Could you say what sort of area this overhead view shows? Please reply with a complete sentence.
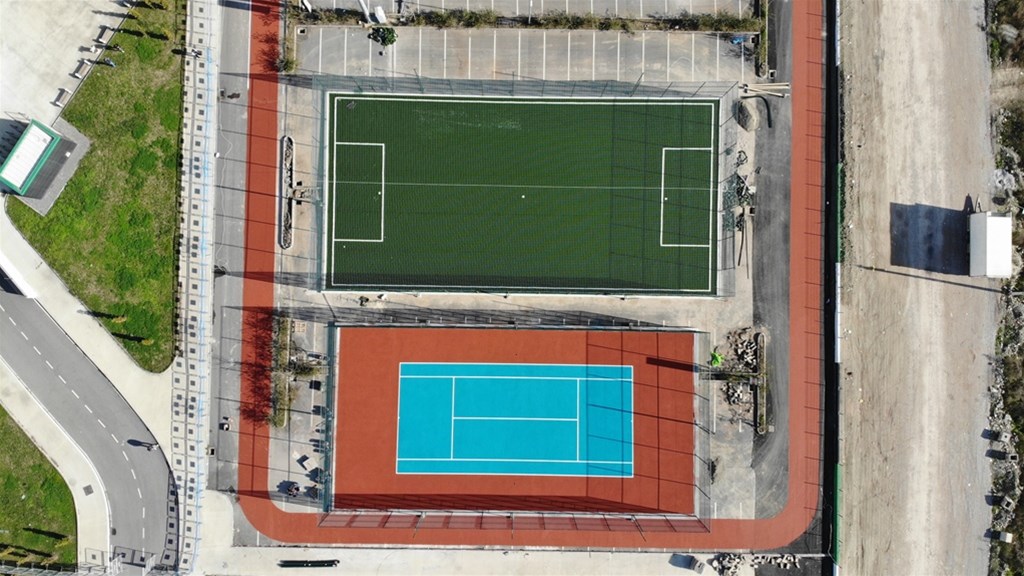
The picture captures a sports ground.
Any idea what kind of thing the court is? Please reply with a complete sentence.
It turns out the court is a tennis court.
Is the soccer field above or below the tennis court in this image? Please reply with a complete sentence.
You can see the soccer field above the tennis court in the frame.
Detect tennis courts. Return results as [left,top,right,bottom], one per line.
[331,322,701,519]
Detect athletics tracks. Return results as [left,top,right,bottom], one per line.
[237,0,822,550]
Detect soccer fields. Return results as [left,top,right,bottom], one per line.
[322,90,721,298]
